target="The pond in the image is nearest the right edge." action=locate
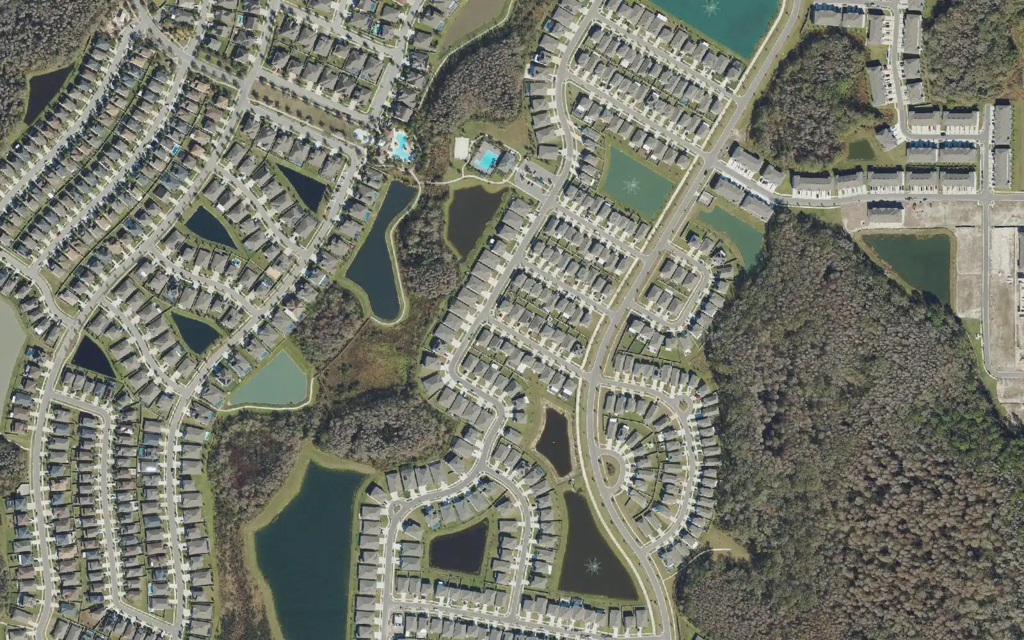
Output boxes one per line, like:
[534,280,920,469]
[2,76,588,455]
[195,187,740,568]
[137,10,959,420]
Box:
[862,232,952,305]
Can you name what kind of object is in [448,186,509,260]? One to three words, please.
pond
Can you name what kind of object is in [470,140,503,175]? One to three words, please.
swimming pool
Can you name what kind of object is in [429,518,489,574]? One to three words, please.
pond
